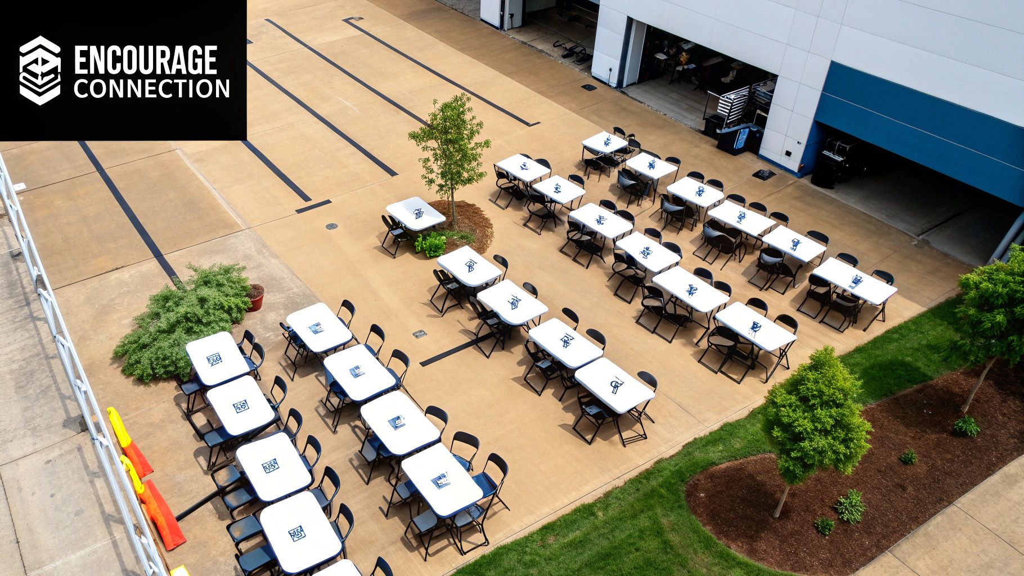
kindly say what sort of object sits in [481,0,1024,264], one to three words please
building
